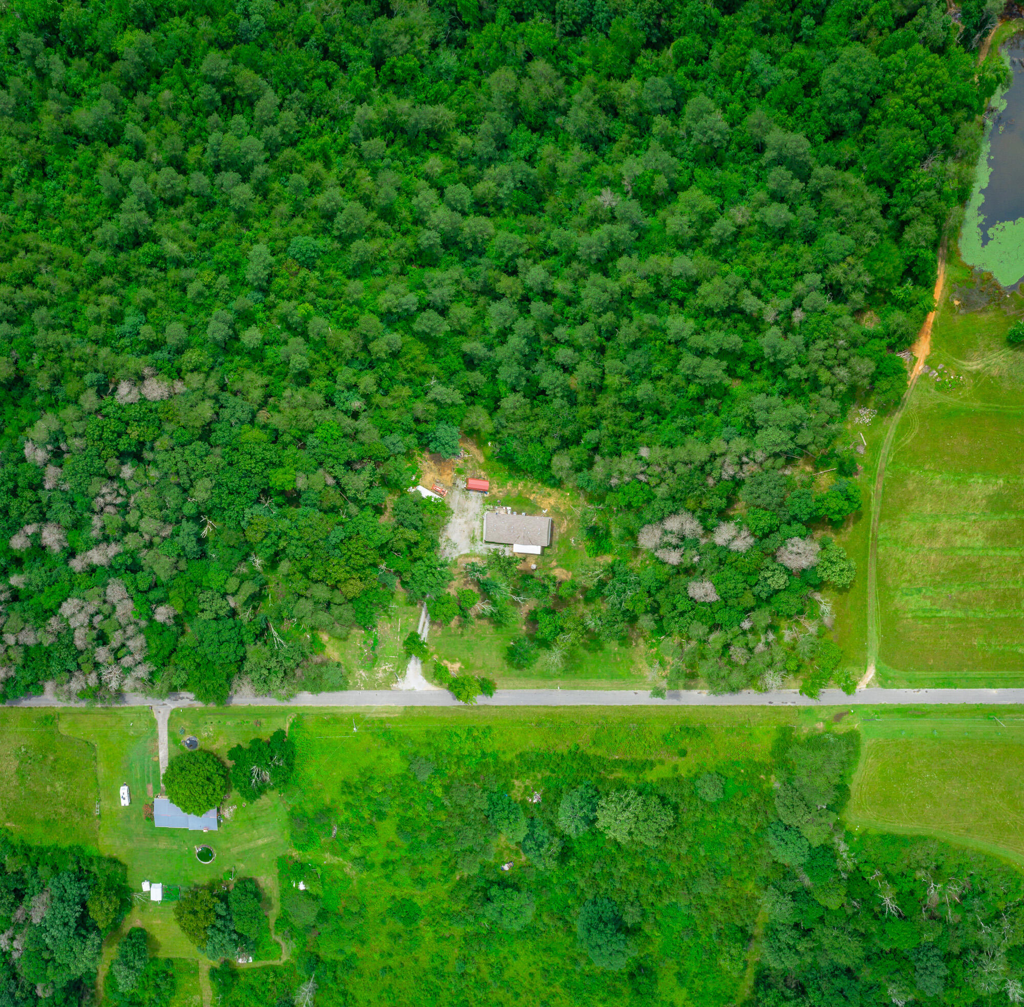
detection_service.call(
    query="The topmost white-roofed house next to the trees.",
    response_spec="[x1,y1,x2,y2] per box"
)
[483,513,553,553]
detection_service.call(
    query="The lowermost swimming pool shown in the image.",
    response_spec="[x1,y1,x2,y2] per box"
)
[193,846,215,865]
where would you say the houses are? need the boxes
[483,513,553,553]
[154,792,220,832]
